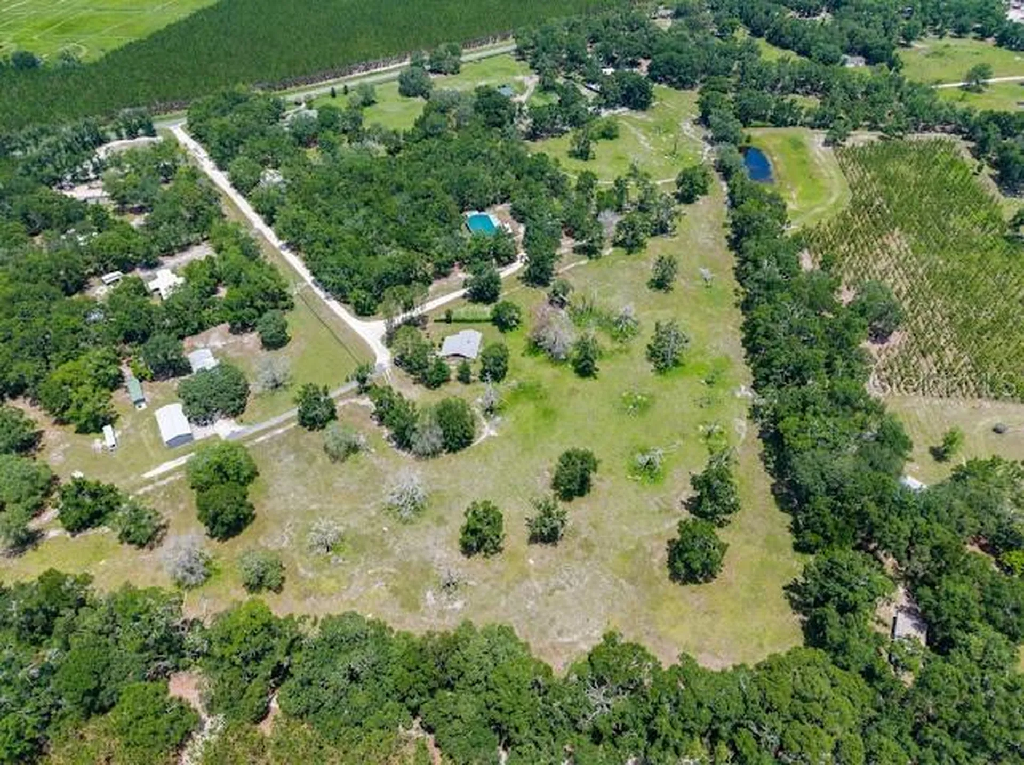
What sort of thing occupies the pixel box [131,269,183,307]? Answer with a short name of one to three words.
house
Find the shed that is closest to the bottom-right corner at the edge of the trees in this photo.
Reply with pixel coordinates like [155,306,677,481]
[888,614,927,652]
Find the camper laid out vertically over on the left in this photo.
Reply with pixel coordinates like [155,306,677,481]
[105,425,118,456]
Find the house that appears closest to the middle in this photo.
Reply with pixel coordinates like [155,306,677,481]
[443,331,483,367]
